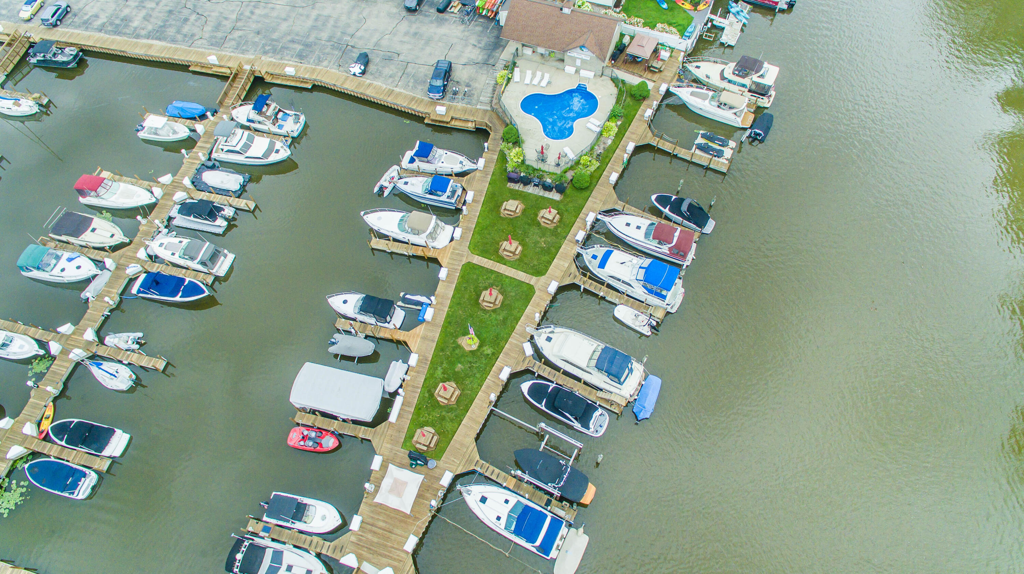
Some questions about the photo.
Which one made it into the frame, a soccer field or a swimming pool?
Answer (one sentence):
This aerial view contains a swimming pool.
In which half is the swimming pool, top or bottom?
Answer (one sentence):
It is in the top half that the swimming pool appears.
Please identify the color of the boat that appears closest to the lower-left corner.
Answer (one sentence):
The color of the boat that appears closest to the lower-left corner is blue.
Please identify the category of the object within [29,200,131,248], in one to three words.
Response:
boat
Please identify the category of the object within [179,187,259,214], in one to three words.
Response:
pier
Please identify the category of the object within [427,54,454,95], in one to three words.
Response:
car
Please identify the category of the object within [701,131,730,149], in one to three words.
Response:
vessel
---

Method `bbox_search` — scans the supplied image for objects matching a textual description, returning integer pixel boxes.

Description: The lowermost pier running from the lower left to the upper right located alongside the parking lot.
[0,108,233,489]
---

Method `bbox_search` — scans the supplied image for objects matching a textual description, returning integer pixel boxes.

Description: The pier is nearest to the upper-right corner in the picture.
[708,3,752,48]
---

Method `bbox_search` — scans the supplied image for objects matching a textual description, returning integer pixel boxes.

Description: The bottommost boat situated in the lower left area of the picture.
[218,524,333,574]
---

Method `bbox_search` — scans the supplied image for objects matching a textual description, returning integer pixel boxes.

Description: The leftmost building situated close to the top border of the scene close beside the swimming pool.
[499,0,635,83]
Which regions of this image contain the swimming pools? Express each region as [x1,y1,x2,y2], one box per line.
[519,72,600,141]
